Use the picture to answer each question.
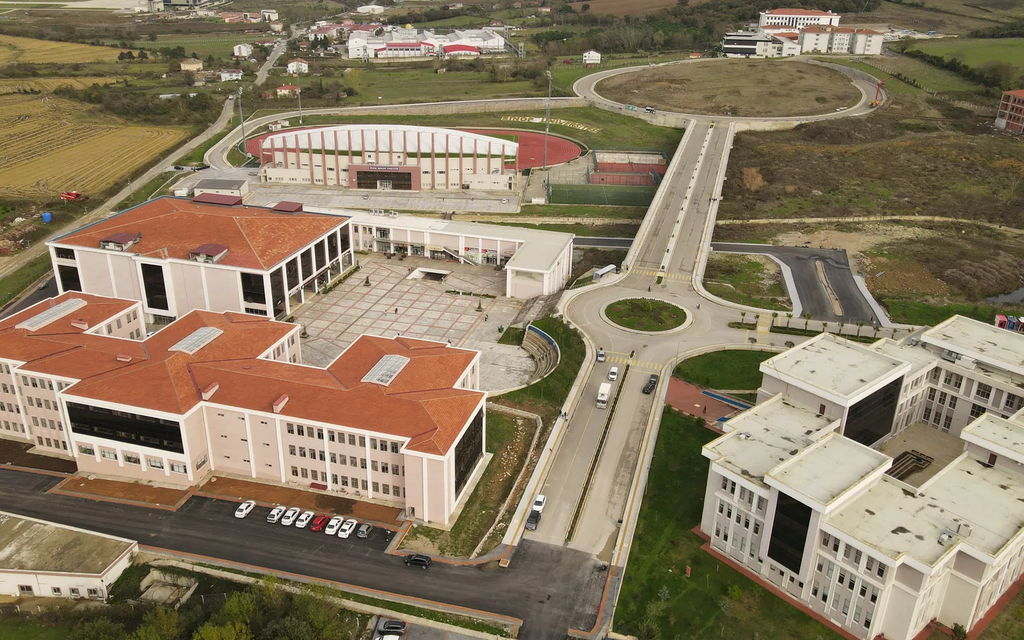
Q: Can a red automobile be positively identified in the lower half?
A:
Yes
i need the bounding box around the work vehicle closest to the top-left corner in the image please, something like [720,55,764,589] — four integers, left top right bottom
[55,188,91,204]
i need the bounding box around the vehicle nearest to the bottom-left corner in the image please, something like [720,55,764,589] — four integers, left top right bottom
[232,499,256,517]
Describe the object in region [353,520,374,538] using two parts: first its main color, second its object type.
gray car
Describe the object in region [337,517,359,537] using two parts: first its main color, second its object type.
white car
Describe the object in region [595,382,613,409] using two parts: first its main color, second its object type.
white vehicle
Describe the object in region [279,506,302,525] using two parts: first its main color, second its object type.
white car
